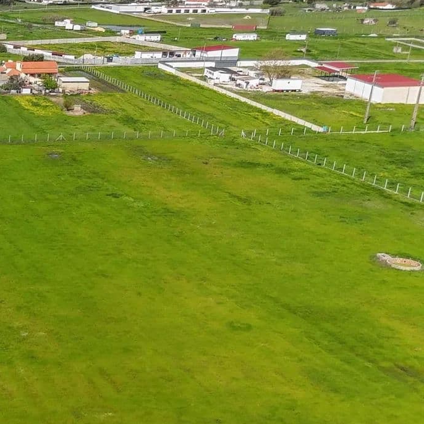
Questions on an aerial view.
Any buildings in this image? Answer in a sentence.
Yes, there's a building down there.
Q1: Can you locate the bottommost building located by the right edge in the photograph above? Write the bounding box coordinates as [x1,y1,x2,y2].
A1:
[346,68,424,103]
